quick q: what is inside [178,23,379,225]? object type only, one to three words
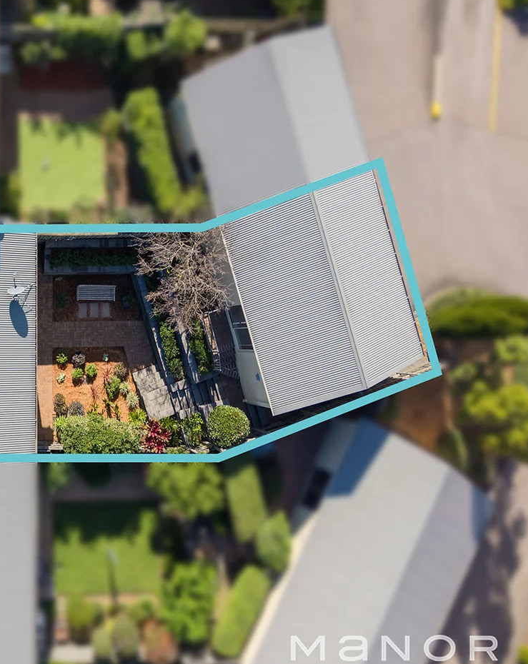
building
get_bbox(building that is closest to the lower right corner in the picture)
[235,419,494,664]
